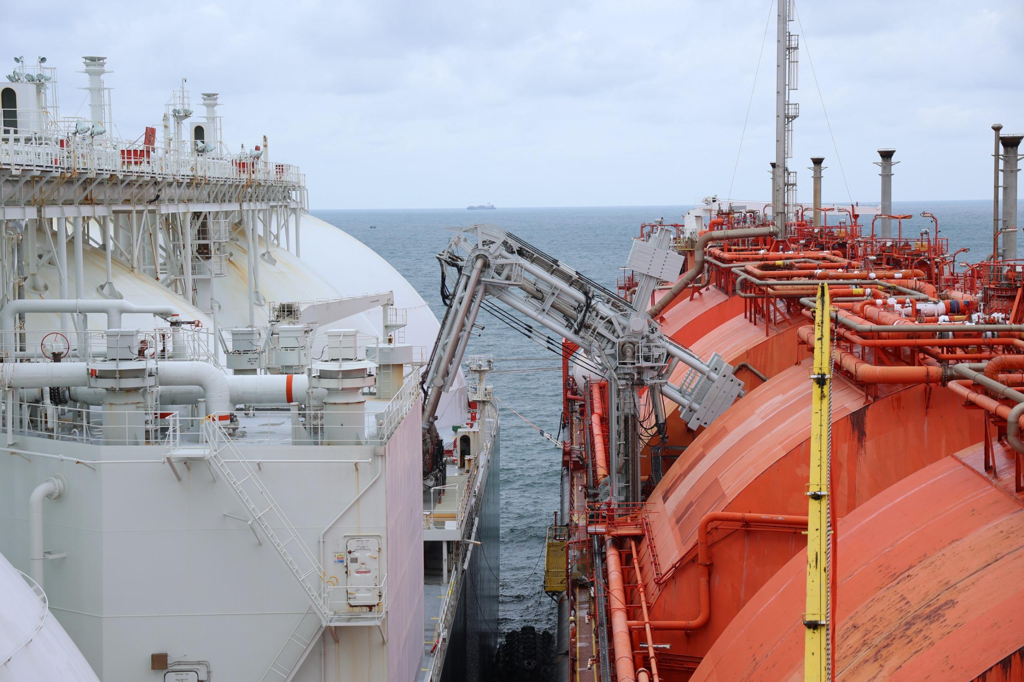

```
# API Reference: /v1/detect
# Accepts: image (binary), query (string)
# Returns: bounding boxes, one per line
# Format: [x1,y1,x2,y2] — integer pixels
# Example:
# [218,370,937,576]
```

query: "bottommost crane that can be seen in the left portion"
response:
[267,287,395,374]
